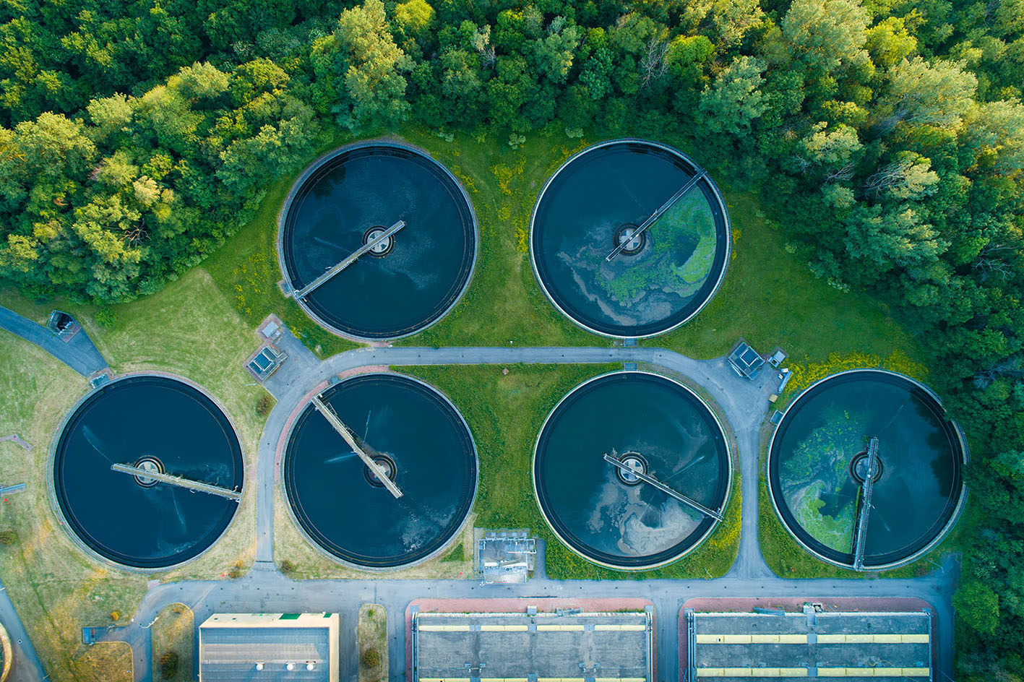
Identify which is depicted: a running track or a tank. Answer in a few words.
tank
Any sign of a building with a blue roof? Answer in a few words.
Yes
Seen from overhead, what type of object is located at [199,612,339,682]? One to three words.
building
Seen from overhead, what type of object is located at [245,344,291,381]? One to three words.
building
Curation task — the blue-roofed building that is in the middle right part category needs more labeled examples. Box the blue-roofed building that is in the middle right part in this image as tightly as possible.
[725,342,769,381]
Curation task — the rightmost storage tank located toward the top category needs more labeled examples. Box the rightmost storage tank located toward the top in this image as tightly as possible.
[529,136,733,340]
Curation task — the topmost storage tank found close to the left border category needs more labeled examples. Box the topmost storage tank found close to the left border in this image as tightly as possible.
[46,372,249,572]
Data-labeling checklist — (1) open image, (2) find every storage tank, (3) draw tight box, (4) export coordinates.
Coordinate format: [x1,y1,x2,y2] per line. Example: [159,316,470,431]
[46,372,249,572]
[281,373,480,572]
[765,368,972,572]
[529,136,733,340]
[532,370,735,573]
[277,139,479,340]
